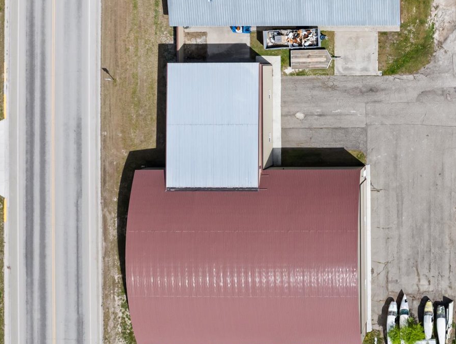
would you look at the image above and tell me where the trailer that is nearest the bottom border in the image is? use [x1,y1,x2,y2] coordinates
[288,49,338,69]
